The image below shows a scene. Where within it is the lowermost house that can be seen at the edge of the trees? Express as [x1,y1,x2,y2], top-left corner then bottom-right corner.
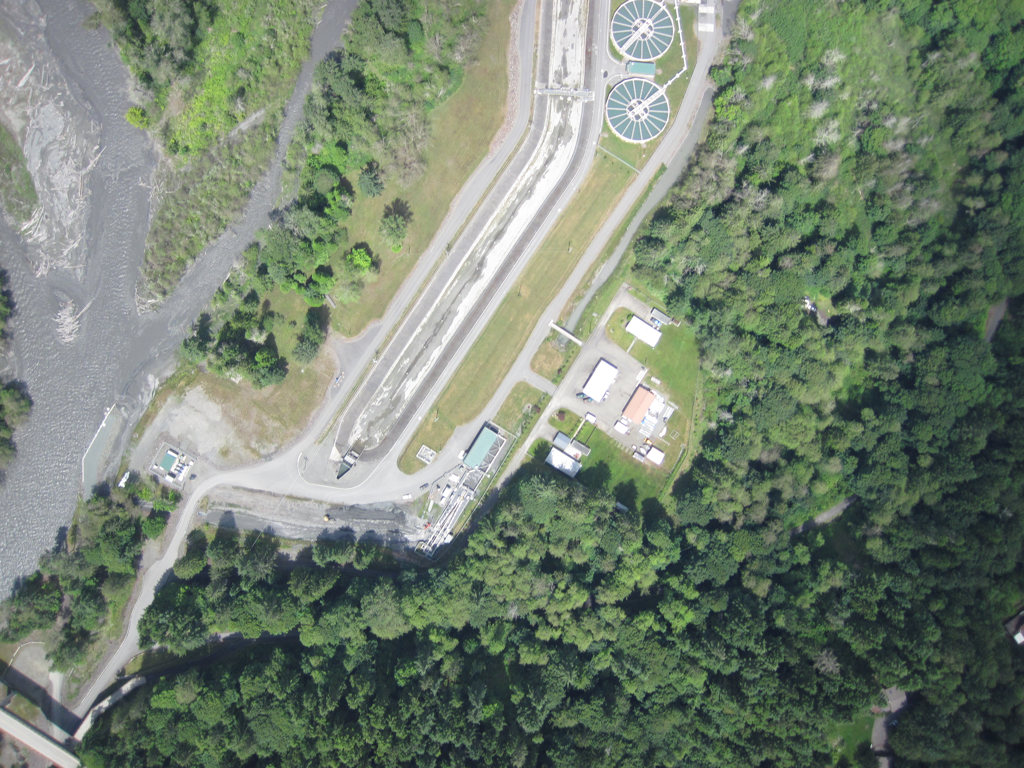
[882,682,908,710]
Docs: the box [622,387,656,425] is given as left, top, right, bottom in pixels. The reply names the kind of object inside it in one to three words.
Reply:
building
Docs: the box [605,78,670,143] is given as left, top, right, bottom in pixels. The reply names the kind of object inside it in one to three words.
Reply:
storage tank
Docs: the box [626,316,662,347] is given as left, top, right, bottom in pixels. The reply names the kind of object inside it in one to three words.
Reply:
house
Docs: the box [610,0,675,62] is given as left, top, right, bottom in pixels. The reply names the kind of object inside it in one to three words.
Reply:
storage tank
